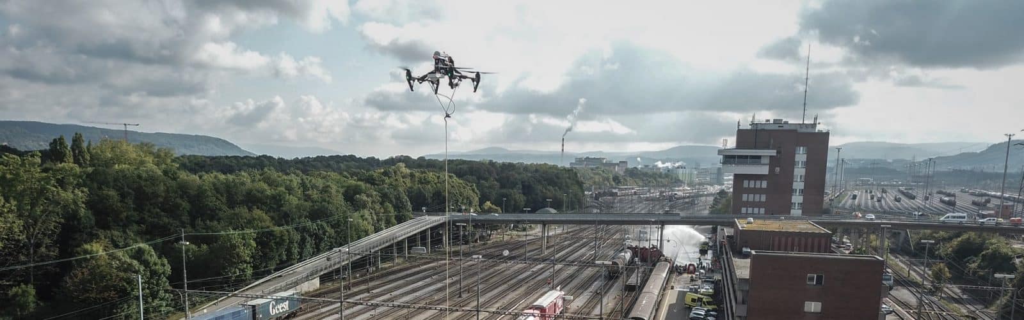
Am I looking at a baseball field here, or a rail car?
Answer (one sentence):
There is a rail car in the scene.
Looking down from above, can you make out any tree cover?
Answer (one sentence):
Yes, there's tree cover in this view.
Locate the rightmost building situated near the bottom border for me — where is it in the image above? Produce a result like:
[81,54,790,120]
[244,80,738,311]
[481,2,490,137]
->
[718,219,889,320]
